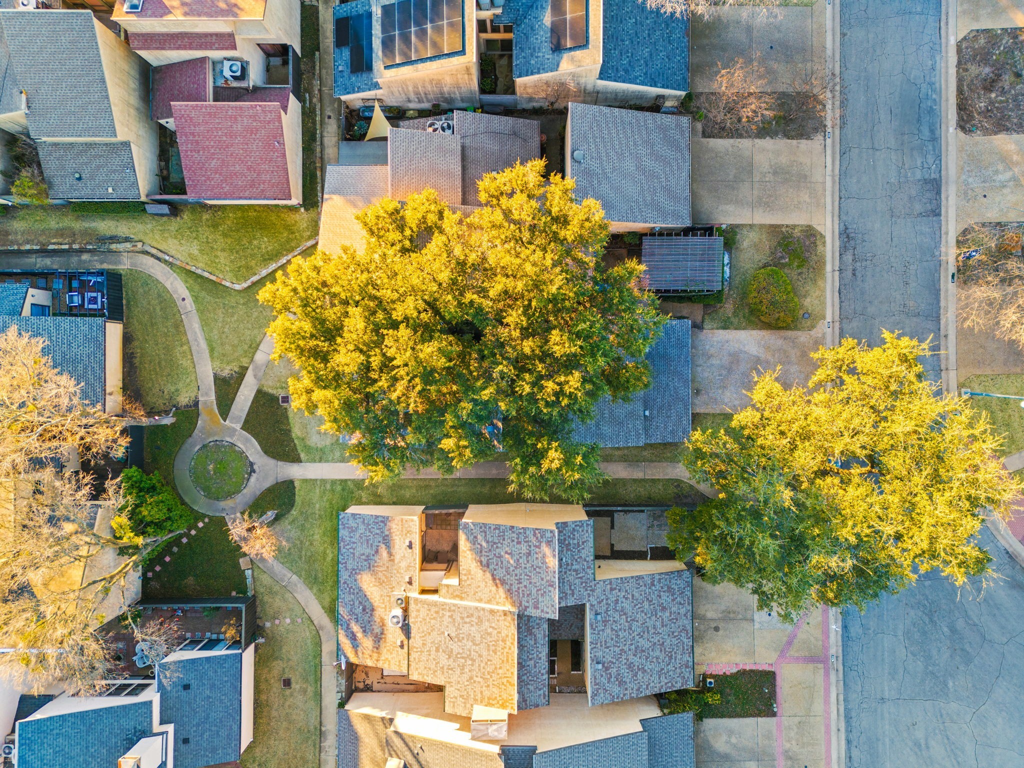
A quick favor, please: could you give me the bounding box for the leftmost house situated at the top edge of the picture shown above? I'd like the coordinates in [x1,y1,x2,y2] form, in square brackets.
[0,0,159,206]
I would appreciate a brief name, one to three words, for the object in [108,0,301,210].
house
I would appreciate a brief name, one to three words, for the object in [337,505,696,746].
house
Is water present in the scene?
No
